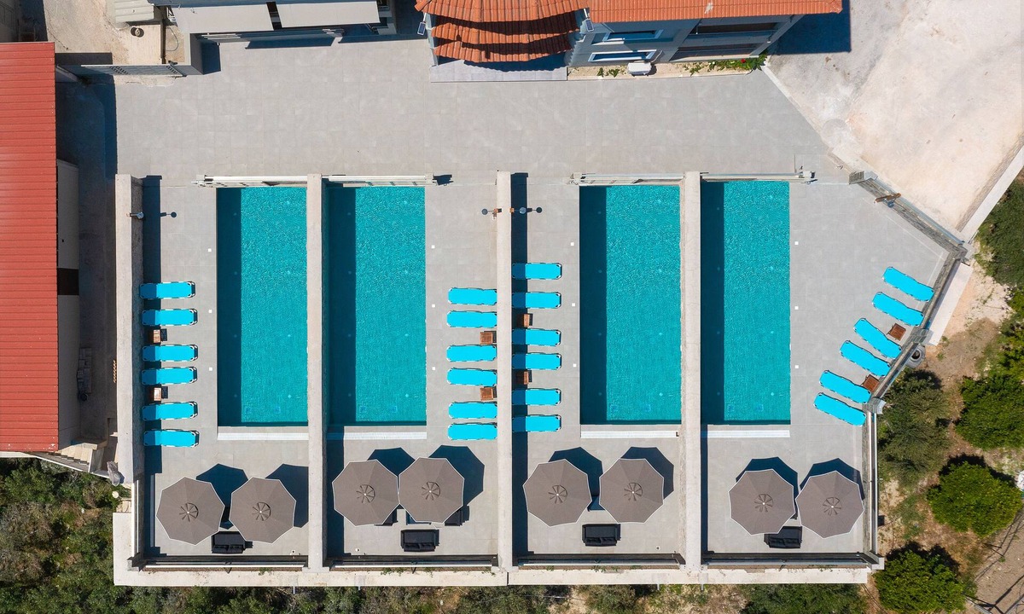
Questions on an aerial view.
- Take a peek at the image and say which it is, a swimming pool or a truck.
swimming pool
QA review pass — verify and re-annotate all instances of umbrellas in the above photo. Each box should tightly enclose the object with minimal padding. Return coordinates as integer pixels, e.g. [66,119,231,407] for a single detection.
[599,459,664,524]
[156,476,225,545]
[333,460,399,526]
[229,477,295,544]
[729,469,795,535]
[398,458,464,524]
[524,459,591,526]
[796,470,864,539]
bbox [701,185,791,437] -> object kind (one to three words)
swimming pool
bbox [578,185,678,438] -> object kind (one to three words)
swimming pool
